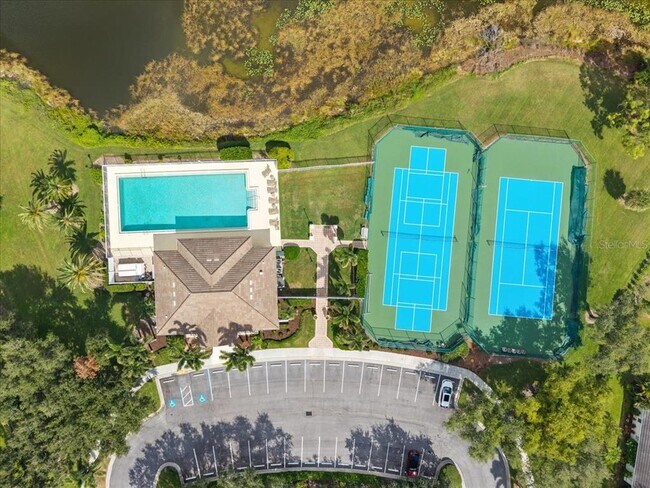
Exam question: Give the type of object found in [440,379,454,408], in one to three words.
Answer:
car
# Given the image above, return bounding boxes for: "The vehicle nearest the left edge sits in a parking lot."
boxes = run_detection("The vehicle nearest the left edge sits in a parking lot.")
[406,450,420,478]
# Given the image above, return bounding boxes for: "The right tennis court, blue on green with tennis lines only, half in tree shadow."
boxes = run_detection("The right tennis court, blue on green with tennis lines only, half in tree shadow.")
[465,136,585,355]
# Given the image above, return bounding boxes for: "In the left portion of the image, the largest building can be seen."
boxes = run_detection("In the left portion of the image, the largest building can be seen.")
[154,237,278,349]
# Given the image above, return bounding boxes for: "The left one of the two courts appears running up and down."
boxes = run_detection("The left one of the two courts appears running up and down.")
[365,126,481,346]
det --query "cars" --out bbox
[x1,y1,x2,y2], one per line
[406,450,420,478]
[440,379,454,408]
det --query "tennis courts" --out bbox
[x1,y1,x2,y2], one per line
[365,126,481,346]
[465,136,585,355]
